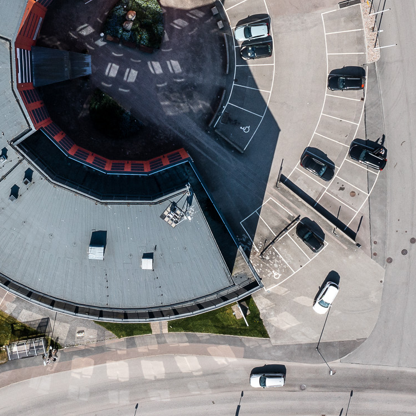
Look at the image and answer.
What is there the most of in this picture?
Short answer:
paved ground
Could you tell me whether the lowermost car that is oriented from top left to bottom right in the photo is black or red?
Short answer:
black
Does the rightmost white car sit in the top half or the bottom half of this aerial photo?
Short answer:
bottom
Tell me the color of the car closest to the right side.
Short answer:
black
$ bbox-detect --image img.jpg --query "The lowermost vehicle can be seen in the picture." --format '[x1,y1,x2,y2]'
[250,371,284,388]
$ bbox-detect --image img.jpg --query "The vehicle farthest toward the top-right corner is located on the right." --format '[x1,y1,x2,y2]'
[328,75,365,91]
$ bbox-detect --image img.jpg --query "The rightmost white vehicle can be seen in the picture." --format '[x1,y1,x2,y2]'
[315,281,338,315]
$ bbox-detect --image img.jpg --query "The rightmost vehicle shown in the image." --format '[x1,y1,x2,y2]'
[348,146,387,173]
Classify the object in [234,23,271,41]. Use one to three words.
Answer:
car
